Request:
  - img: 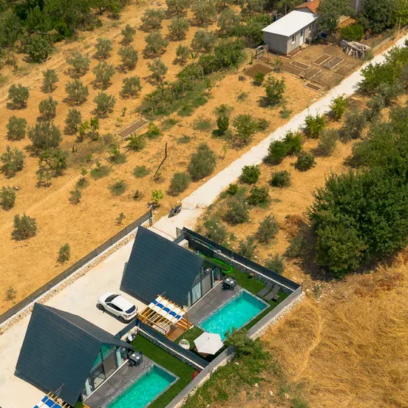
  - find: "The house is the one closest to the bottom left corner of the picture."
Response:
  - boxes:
[7,302,139,408]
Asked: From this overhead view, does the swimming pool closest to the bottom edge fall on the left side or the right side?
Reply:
left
